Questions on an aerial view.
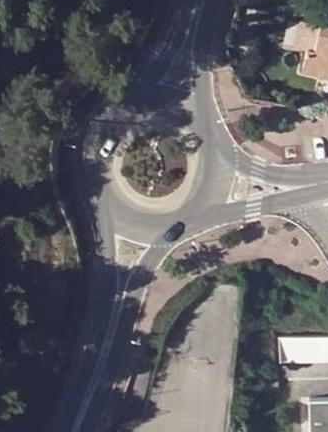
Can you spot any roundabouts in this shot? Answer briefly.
Yes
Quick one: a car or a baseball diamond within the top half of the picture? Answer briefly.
car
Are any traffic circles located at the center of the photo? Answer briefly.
Yes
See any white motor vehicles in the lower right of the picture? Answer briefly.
No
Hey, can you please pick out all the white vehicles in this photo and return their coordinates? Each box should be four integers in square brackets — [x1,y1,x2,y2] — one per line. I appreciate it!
[99,138,116,158]
[314,138,326,159]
